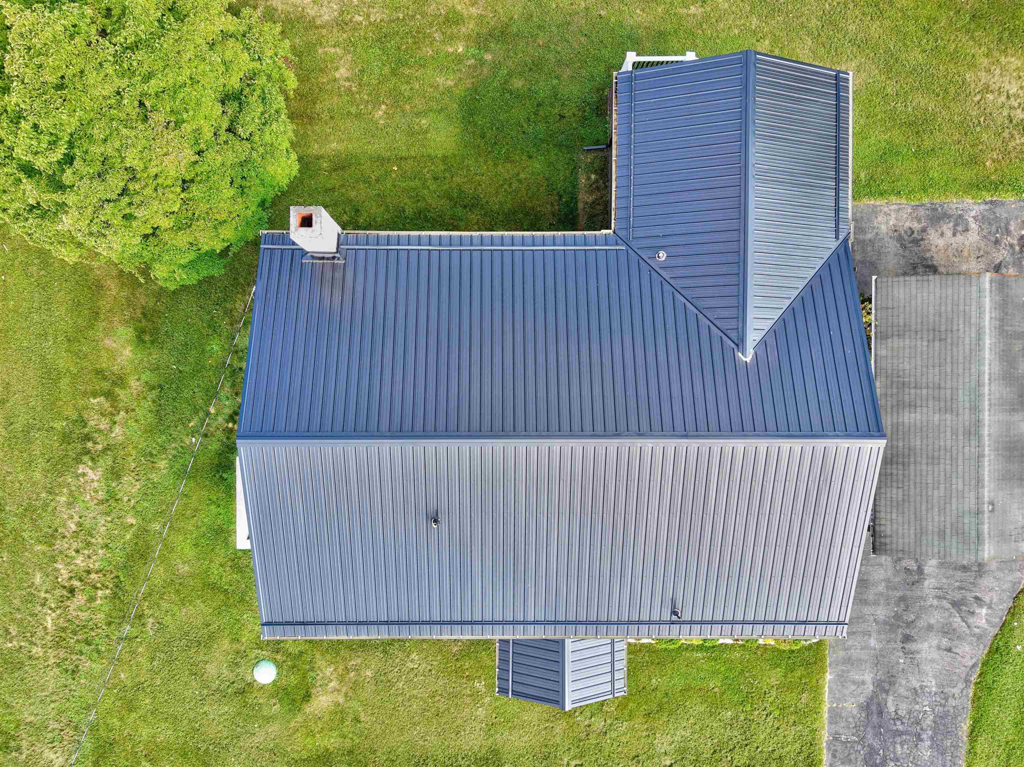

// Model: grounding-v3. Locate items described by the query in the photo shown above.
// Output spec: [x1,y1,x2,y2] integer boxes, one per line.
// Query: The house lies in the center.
[237,50,885,711]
